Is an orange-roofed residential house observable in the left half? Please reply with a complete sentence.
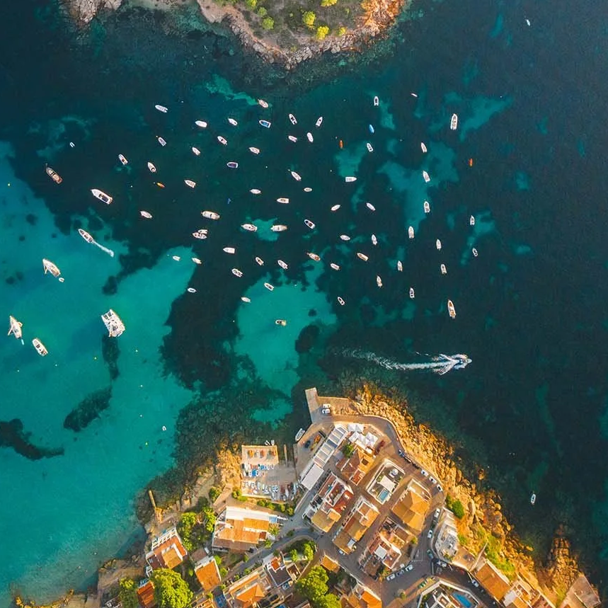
Yes, an orange-roofed residential house appears in the left half.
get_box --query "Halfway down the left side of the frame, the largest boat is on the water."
[102,308,127,339]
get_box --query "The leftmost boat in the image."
[7,316,22,340]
